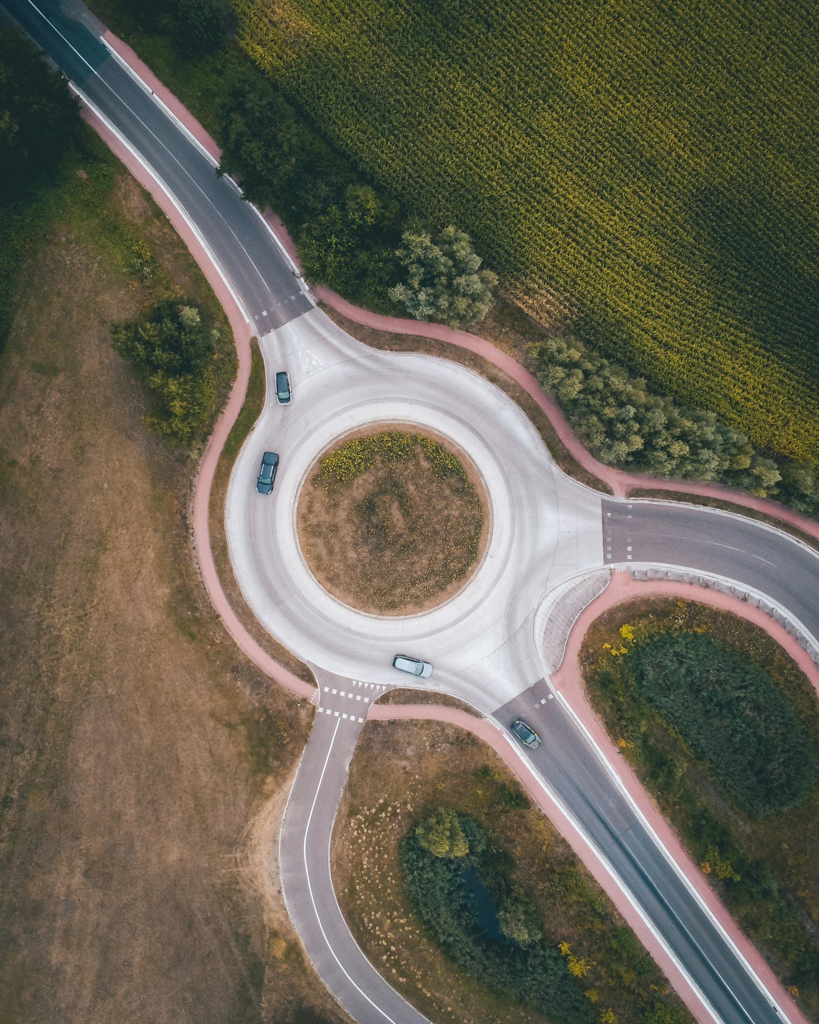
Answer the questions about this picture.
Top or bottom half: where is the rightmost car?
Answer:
bottom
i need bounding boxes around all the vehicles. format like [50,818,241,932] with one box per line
[392,653,433,678]
[273,370,292,406]
[255,451,278,495]
[510,718,541,750]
